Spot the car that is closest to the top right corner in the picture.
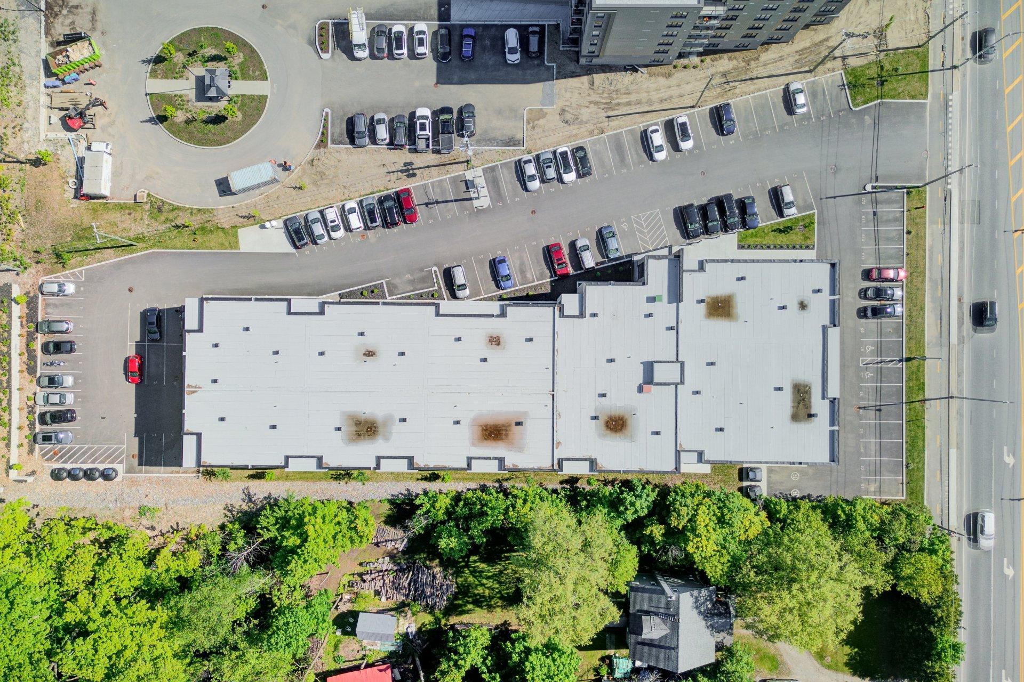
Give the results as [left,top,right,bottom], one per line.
[977,26,999,64]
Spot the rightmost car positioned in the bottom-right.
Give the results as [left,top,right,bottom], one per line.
[978,511,999,549]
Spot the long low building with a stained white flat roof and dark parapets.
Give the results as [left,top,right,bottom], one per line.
[183,245,840,475]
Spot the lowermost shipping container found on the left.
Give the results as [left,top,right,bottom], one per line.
[228,163,283,197]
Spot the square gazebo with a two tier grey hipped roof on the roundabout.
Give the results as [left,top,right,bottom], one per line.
[209,71,238,103]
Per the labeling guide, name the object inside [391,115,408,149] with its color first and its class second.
gray car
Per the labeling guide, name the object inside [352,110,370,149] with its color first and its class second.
gray car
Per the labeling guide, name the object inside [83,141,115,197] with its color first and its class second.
white truck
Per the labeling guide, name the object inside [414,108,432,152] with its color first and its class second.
white vehicle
